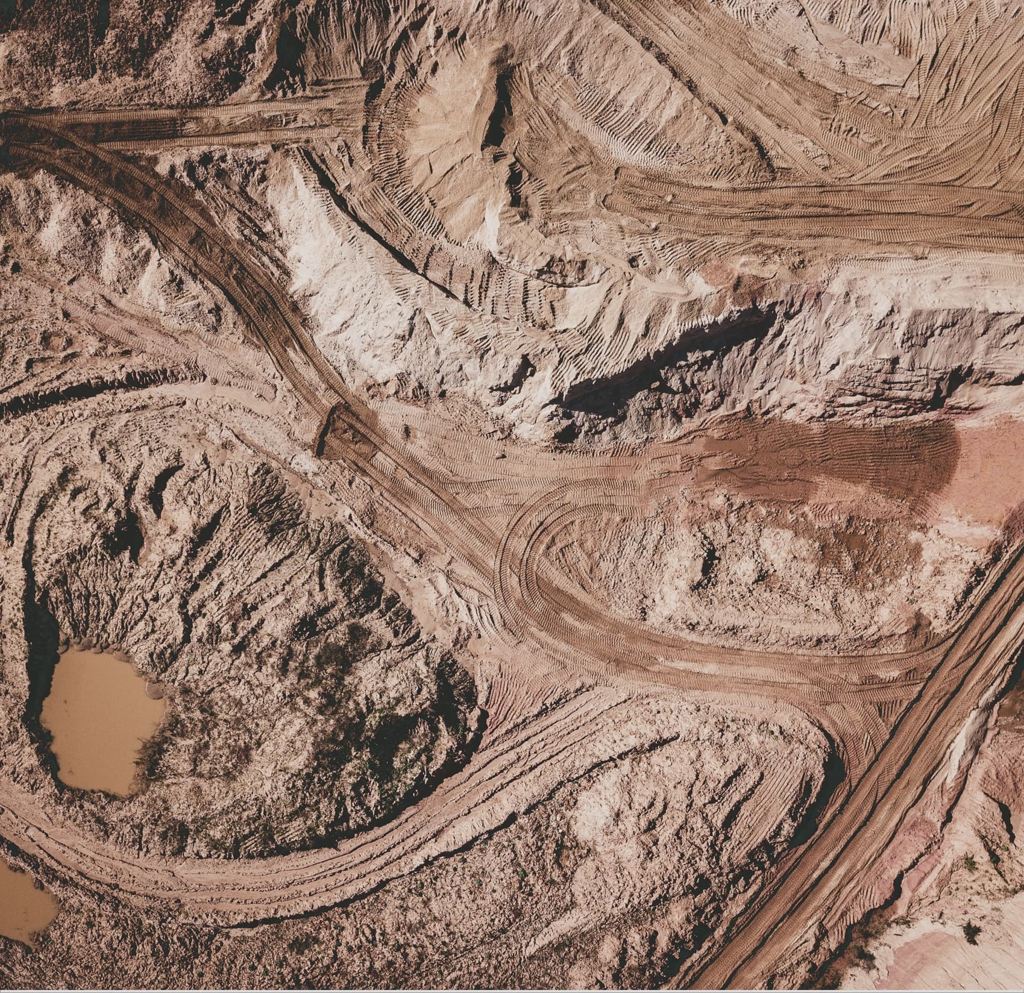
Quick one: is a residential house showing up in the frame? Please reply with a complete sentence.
No, there appears to be no residential house in this shot.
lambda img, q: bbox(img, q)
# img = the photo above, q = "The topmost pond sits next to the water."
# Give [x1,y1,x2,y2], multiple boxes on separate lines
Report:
[39,638,170,807]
